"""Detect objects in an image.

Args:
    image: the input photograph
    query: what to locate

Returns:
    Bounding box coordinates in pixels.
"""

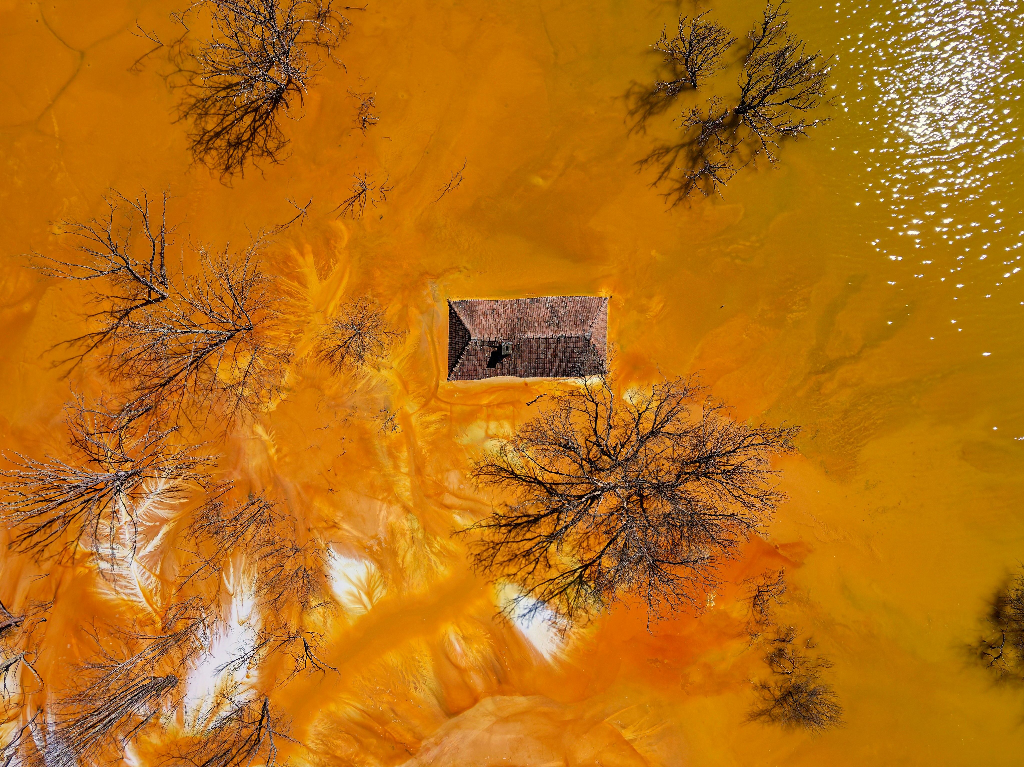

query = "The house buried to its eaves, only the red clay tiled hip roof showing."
[447,295,610,383]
